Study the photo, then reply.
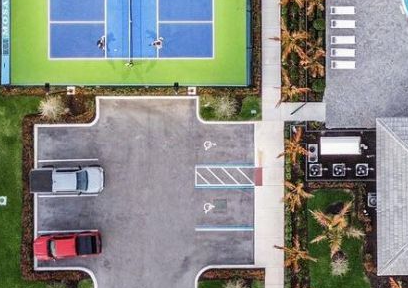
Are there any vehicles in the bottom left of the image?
Yes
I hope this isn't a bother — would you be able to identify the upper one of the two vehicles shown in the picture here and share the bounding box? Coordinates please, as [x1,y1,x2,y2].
[30,166,105,197]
